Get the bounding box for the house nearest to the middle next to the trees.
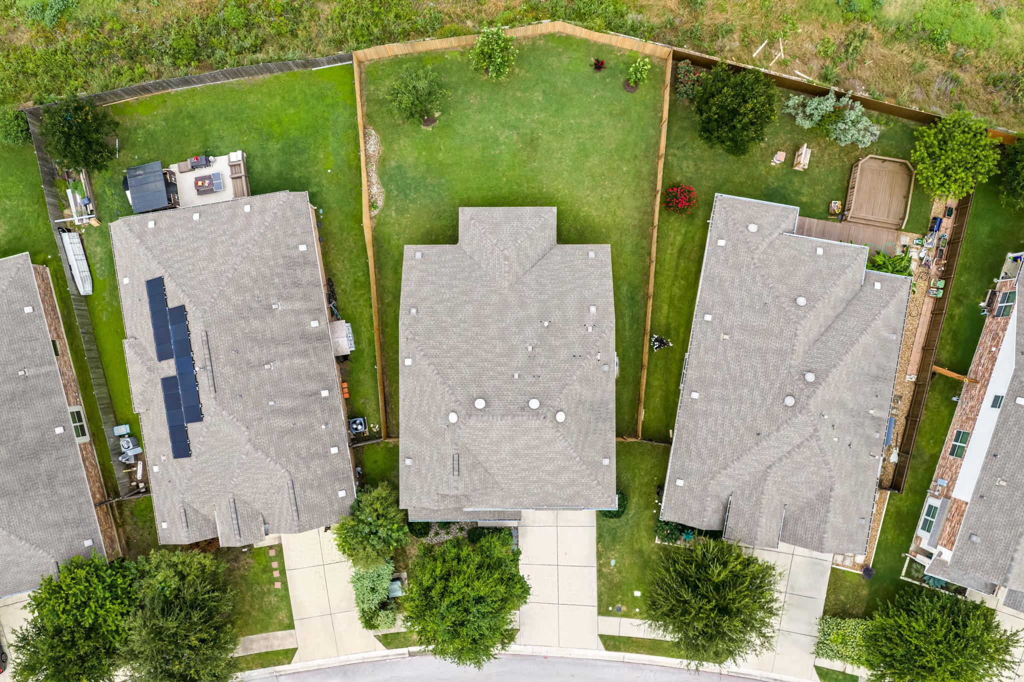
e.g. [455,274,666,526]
[398,206,618,526]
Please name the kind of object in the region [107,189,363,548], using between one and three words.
house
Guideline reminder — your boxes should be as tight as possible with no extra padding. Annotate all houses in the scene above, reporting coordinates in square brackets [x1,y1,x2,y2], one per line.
[107,189,363,548]
[0,253,126,598]
[658,191,913,554]
[398,206,618,526]
[908,249,1024,613]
